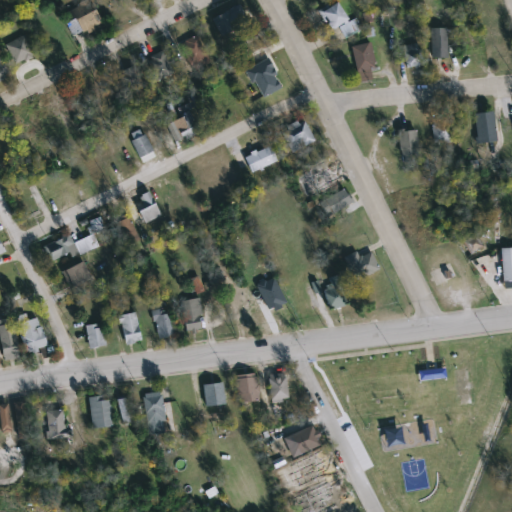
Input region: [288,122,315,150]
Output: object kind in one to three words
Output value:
house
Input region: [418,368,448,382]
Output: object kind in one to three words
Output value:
building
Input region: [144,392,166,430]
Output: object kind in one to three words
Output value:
house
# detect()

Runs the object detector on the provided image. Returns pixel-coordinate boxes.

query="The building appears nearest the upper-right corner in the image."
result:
[432,27,449,58]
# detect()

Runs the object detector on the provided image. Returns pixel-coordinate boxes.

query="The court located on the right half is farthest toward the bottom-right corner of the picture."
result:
[402,459,429,492]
